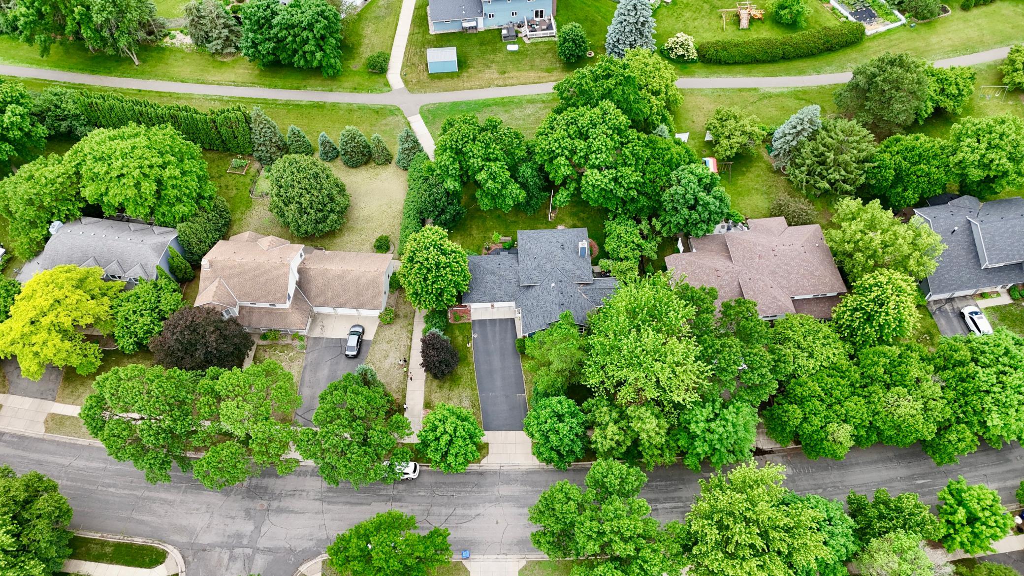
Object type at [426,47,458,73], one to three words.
shed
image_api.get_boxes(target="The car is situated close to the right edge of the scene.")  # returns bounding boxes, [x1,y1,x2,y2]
[964,307,995,338]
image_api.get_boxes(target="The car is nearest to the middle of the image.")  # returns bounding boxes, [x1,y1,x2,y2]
[343,325,364,358]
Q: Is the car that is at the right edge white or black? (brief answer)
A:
white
